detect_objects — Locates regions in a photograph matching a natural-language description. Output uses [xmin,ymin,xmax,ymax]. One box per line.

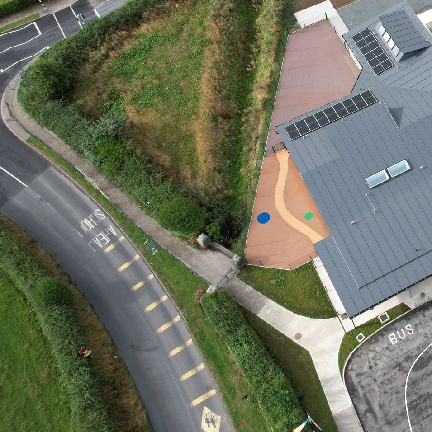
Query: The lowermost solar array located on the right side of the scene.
[285,89,378,140]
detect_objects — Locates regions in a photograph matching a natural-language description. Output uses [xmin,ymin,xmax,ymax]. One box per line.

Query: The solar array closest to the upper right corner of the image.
[351,29,394,74]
